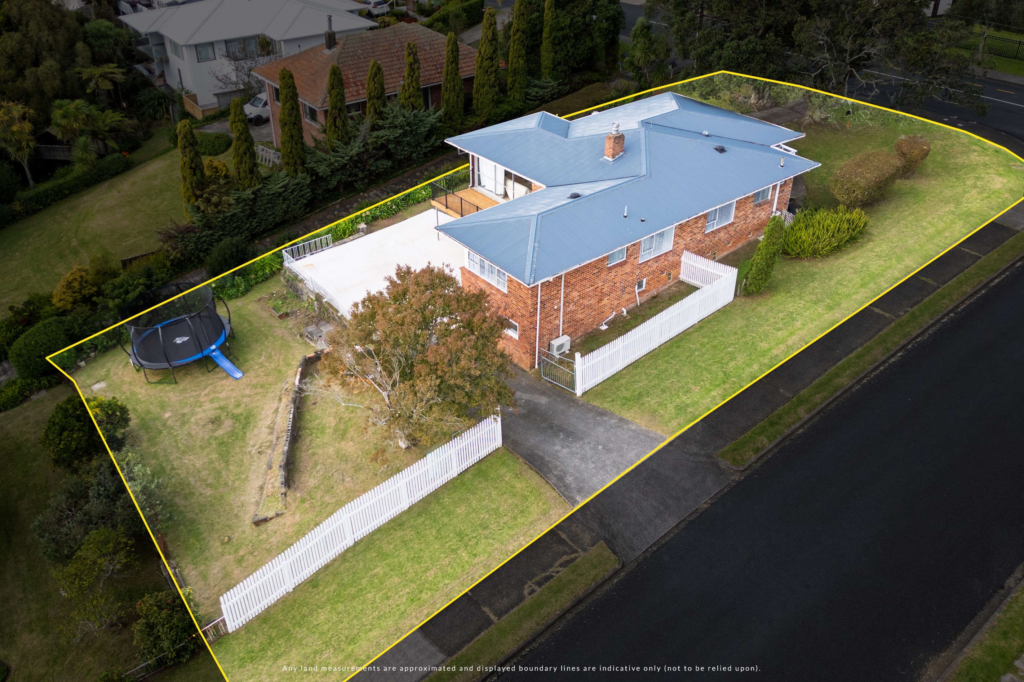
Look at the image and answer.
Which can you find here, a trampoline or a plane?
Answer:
trampoline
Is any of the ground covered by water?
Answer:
No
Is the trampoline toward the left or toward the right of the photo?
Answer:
left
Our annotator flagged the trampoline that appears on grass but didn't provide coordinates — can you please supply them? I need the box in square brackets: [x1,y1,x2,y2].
[121,281,247,387]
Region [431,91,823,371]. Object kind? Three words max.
house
